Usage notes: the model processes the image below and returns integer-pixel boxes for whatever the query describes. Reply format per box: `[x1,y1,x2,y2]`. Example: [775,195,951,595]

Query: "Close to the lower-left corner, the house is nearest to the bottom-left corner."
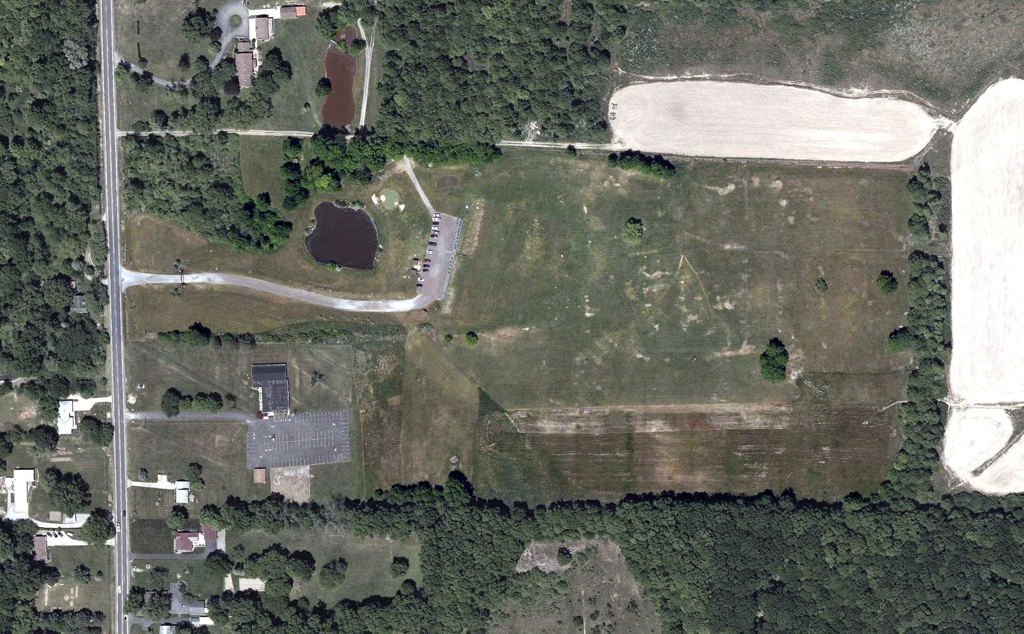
[33,535,47,562]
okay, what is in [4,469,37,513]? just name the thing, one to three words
house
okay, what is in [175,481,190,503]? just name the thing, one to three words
house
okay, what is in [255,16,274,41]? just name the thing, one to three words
building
